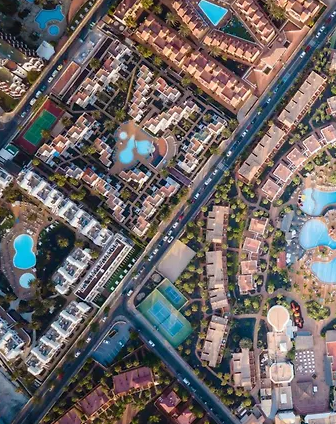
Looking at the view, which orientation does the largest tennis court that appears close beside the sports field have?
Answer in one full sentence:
Seen from above, the largest tennis court that appears close beside the sports field lies at an angle.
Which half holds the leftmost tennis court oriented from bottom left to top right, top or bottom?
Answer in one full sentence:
Seen from above, the leftmost tennis court oriented from bottom left to top right lies in the top half of the view.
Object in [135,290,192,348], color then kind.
blue tennis court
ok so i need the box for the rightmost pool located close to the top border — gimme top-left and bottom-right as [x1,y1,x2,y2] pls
[198,0,228,26]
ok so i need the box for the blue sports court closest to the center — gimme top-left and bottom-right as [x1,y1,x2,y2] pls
[156,278,188,313]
